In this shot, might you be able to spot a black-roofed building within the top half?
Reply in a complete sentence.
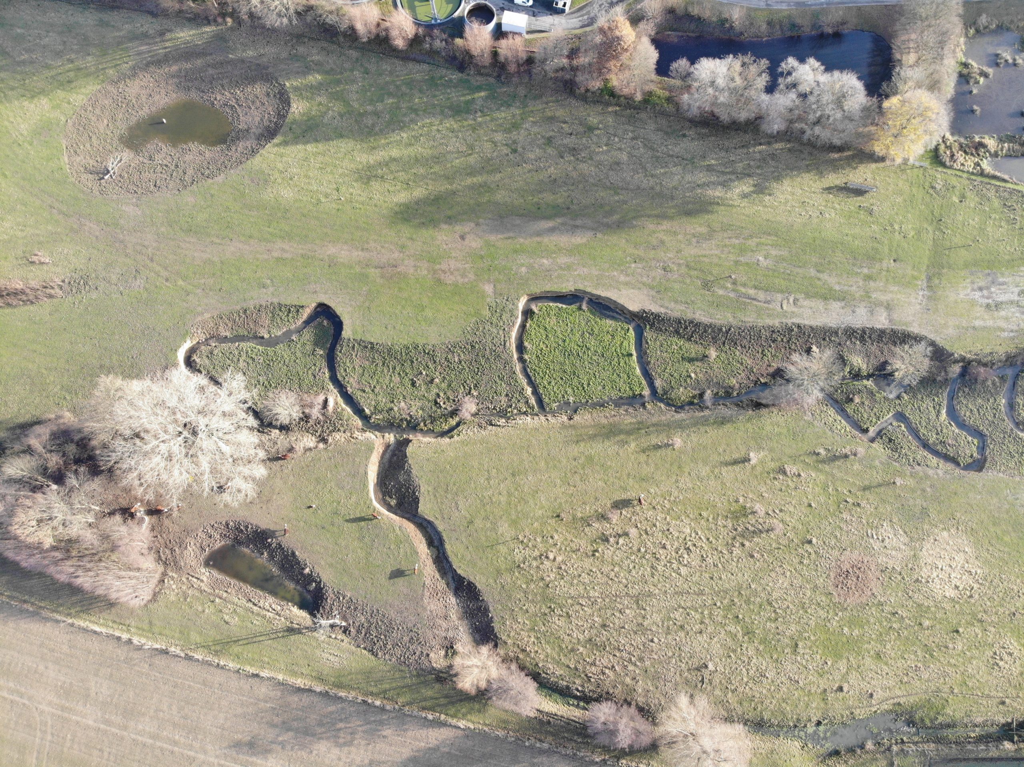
No, there's no black-roofed building to be seen within the top half.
